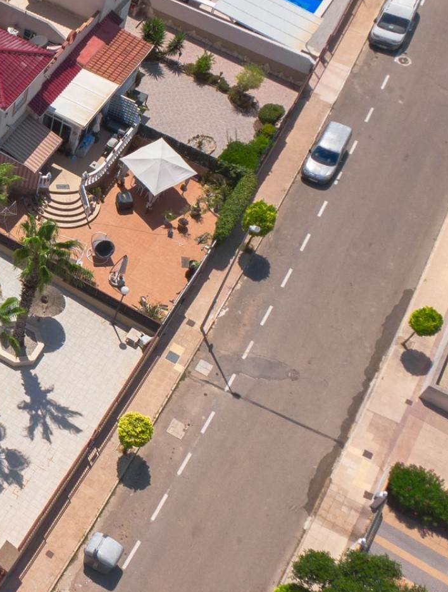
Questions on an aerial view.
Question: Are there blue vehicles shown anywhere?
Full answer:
No, no blue vehicle is visible in the scene.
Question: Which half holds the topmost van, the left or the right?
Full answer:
The topmost van appears in the right half of the scene.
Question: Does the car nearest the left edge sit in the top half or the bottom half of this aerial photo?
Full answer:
The top half of the photo is where the car nearest the left edge is.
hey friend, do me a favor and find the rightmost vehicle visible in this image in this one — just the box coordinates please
[370,0,428,52]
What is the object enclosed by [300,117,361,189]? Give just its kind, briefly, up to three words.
car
